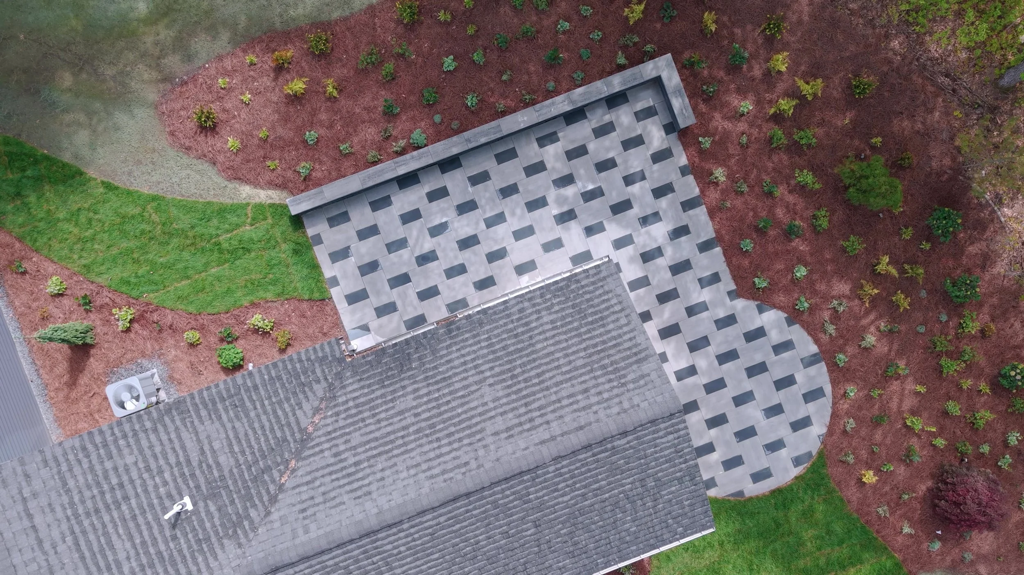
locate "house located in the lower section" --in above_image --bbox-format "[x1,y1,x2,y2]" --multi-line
[0,256,715,575]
